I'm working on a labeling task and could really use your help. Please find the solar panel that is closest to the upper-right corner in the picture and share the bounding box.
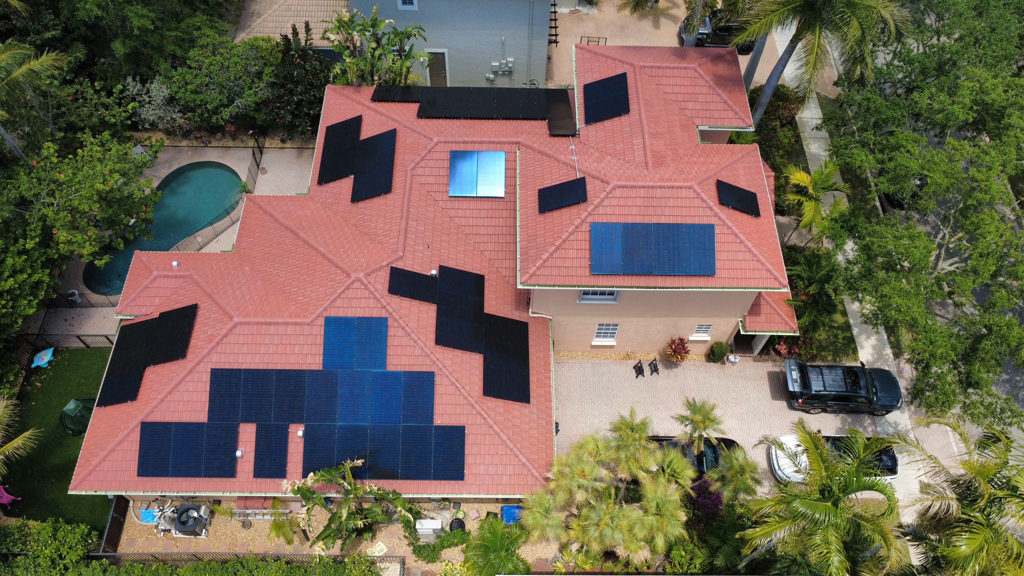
[718,178,762,216]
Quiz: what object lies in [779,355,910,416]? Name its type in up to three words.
car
